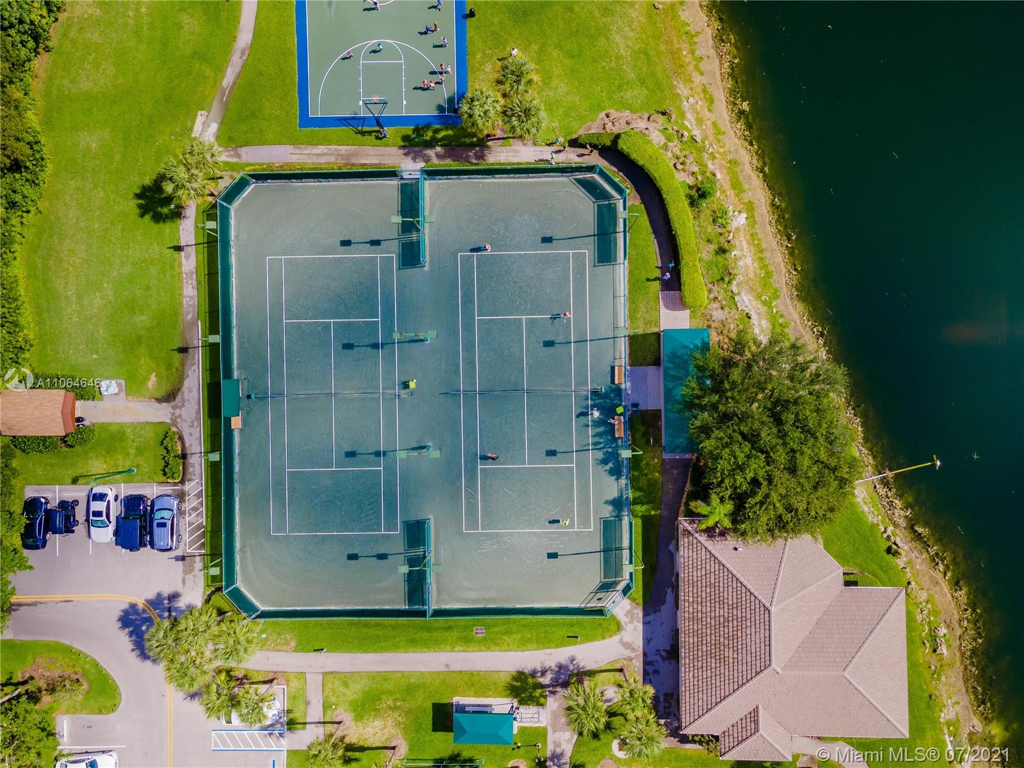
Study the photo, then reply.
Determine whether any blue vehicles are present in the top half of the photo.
No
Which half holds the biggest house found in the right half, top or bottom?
bottom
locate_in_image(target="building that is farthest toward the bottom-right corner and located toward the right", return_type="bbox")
[678,517,909,762]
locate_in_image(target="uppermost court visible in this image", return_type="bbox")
[295,0,469,128]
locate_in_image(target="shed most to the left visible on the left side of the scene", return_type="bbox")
[0,389,81,436]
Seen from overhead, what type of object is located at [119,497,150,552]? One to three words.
car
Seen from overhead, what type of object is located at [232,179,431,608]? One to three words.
tennis court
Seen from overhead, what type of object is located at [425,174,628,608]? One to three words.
tennis court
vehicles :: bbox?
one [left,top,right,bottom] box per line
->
[57,752,118,768]
[51,503,78,537]
[88,486,118,543]
[23,496,51,550]
[152,495,182,552]
[119,497,150,552]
